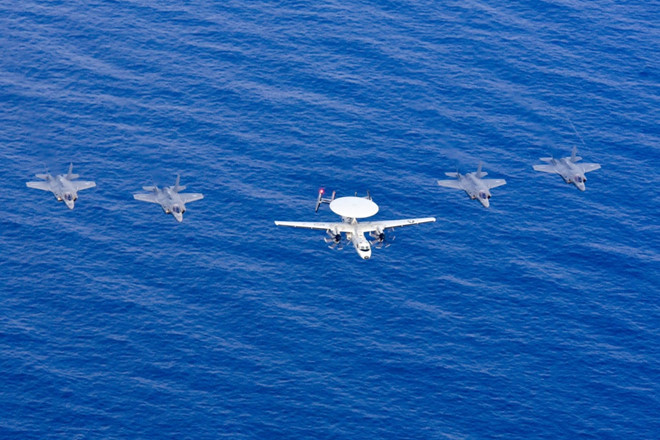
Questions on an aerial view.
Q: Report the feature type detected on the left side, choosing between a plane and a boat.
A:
plane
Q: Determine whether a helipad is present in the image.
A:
No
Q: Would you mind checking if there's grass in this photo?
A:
No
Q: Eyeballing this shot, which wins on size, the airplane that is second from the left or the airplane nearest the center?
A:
the airplane nearest the center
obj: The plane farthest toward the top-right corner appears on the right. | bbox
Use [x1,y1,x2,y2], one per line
[533,146,601,191]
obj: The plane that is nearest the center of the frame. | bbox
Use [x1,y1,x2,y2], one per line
[275,189,435,260]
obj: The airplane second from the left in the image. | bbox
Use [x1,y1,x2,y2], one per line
[133,175,204,222]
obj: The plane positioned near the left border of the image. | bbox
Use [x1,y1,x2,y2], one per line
[27,164,95,209]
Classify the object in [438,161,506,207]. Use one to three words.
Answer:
airplane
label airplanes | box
[533,146,601,191]
[27,164,95,209]
[133,175,204,222]
[438,161,506,207]
[275,189,435,260]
